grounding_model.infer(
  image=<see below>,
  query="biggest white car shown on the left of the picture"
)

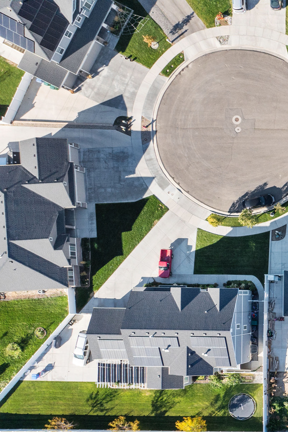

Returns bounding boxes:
[72,331,90,365]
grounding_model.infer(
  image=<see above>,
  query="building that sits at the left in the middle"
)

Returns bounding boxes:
[0,135,86,291]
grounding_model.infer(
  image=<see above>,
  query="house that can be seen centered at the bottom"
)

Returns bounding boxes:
[82,286,253,391]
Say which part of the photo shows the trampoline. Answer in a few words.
bottom right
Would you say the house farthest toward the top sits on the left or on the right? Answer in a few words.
left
